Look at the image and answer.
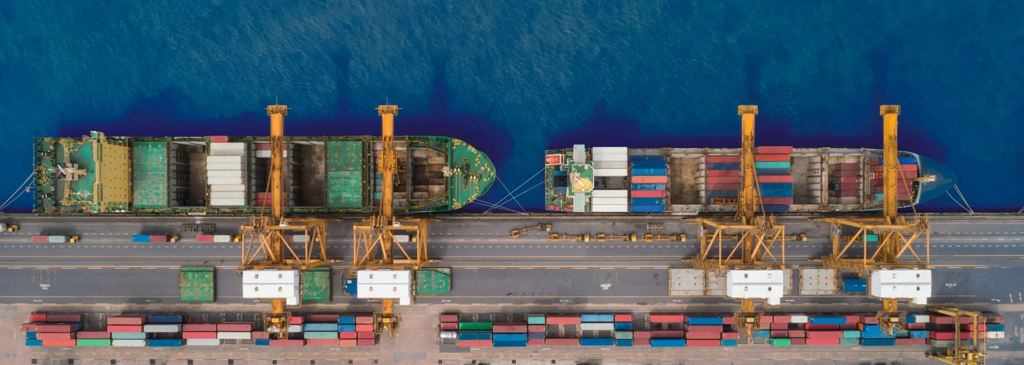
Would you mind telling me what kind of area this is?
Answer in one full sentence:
What you see here is a port.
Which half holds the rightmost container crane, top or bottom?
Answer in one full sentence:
The rightmost container crane is in the bottom half of the image.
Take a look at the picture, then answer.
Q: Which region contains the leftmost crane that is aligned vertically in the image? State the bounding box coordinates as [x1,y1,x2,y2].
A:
[234,95,351,342]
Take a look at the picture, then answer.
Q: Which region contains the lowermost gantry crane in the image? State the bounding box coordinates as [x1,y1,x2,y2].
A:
[928,307,984,365]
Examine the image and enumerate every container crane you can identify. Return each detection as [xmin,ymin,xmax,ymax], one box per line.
[346,95,449,342]
[682,95,787,342]
[809,95,933,342]
[234,95,351,342]
[928,307,984,365]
